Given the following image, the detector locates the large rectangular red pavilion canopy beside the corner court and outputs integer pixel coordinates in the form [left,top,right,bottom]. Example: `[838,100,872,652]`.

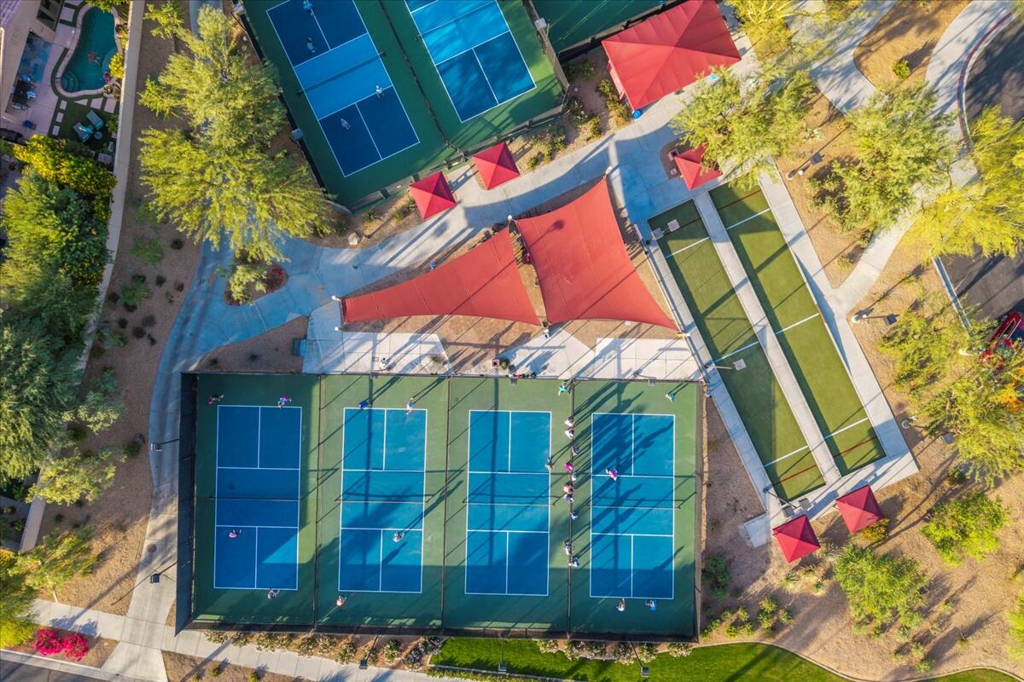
[601,0,740,112]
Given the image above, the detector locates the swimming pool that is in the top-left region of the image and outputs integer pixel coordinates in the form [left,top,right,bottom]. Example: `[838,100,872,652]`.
[57,5,122,96]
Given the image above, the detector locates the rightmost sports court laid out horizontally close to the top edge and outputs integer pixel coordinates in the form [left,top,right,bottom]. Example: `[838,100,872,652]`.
[535,0,683,58]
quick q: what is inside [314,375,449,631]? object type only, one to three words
sports court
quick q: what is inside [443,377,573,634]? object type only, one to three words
sports court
